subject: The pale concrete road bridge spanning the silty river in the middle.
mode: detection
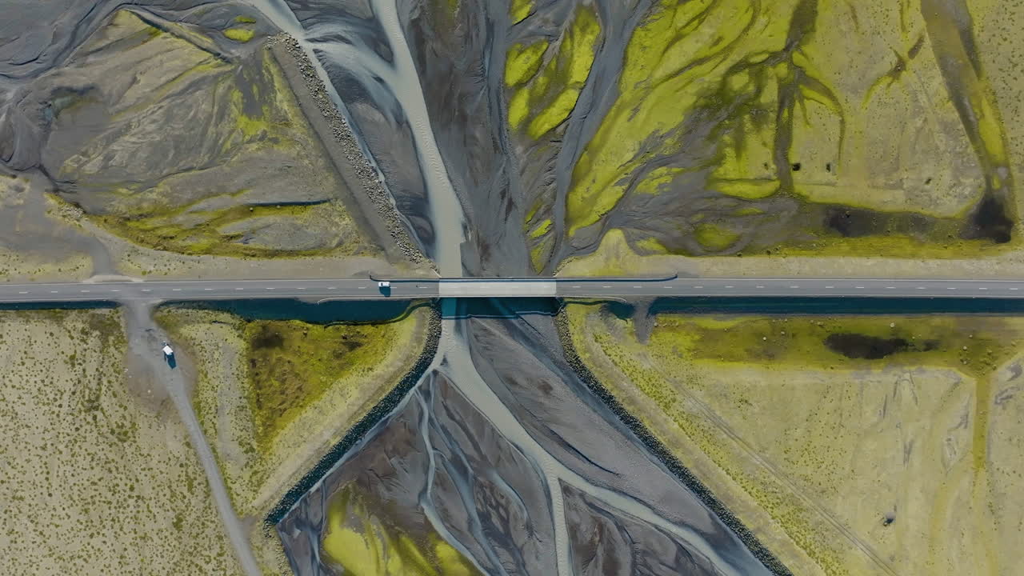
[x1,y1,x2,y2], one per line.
[433,270,556,297]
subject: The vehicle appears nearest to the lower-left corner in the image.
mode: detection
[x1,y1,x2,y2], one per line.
[161,342,174,356]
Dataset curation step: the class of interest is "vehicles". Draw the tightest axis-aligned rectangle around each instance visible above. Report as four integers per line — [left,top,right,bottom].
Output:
[161,342,174,356]
[378,282,390,287]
